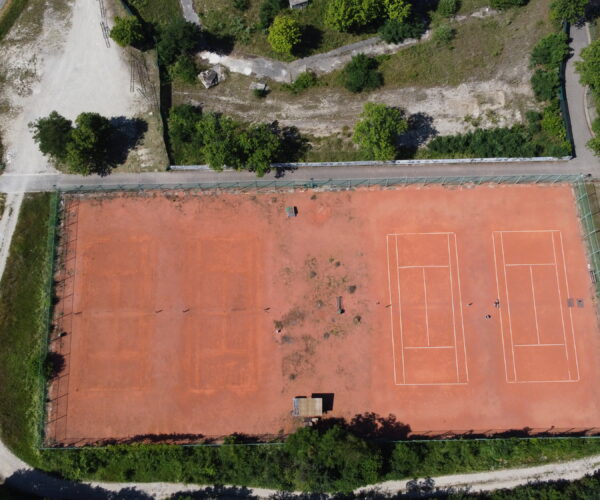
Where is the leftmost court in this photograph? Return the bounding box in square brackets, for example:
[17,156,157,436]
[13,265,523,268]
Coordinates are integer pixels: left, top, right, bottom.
[73,237,157,392]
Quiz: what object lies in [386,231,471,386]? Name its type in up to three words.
tennis court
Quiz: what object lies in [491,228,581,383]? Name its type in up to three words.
tennis court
